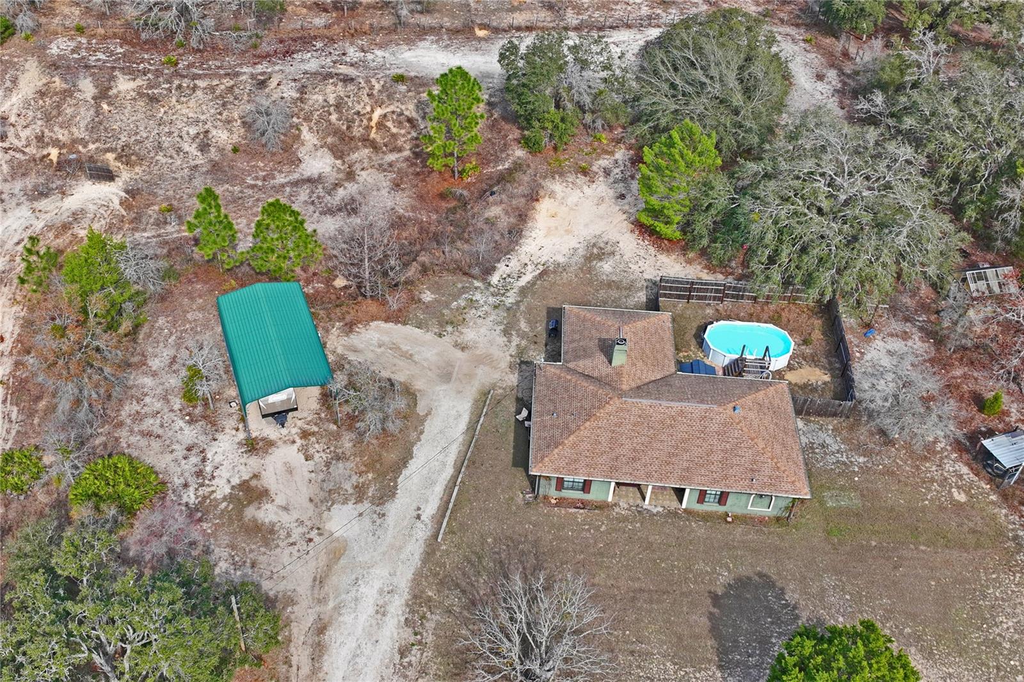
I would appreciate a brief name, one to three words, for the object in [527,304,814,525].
house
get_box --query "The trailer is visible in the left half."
[263,390,308,433]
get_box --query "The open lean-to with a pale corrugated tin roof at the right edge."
[962,419,1024,492]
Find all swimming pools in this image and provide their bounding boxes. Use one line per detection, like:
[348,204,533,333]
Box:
[699,318,796,374]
